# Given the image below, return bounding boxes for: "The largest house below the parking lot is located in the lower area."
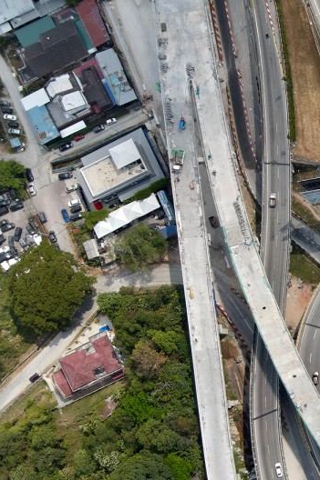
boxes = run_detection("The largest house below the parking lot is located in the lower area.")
[52,334,128,398]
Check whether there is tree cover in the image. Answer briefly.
Yes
